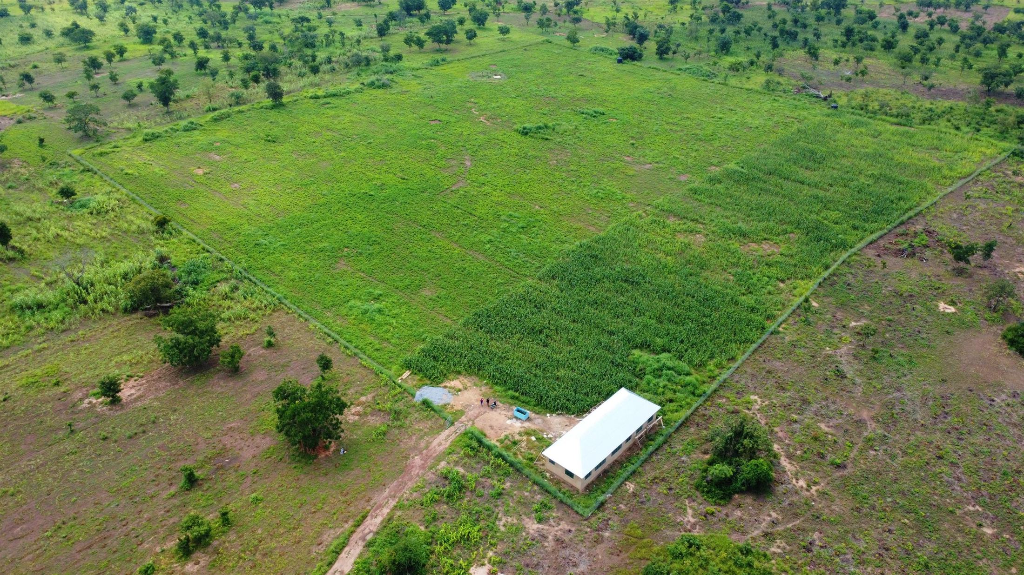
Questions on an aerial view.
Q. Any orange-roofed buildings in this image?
No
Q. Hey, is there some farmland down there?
Yes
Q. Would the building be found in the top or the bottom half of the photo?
bottom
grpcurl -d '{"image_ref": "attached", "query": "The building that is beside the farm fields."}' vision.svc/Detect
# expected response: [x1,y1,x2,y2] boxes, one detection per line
[543,388,661,492]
